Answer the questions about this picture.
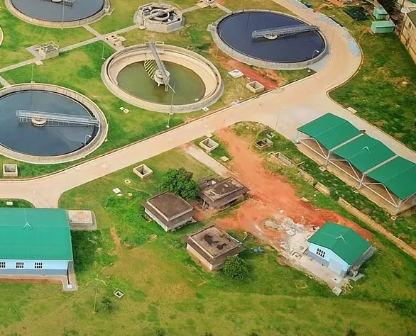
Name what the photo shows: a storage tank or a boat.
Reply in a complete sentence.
The image shows a storage tank.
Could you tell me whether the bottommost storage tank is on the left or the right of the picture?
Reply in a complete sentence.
You can find the bottommost storage tank on the left side of the picture.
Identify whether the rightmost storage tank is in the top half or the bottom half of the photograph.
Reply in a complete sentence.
The rightmost storage tank is in the top half of the image.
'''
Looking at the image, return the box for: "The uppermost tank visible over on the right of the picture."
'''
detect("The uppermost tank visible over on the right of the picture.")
[202,3,327,67]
